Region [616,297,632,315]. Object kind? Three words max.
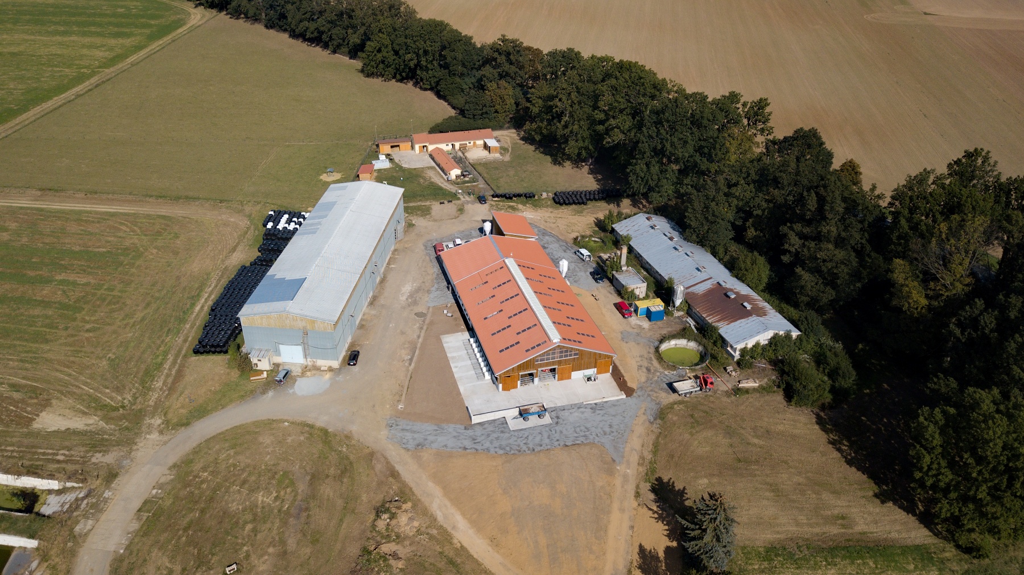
vehicle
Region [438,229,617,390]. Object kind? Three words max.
barn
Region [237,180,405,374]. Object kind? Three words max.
hangar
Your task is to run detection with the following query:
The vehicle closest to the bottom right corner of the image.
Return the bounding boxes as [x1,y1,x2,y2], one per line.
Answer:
[676,372,717,394]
